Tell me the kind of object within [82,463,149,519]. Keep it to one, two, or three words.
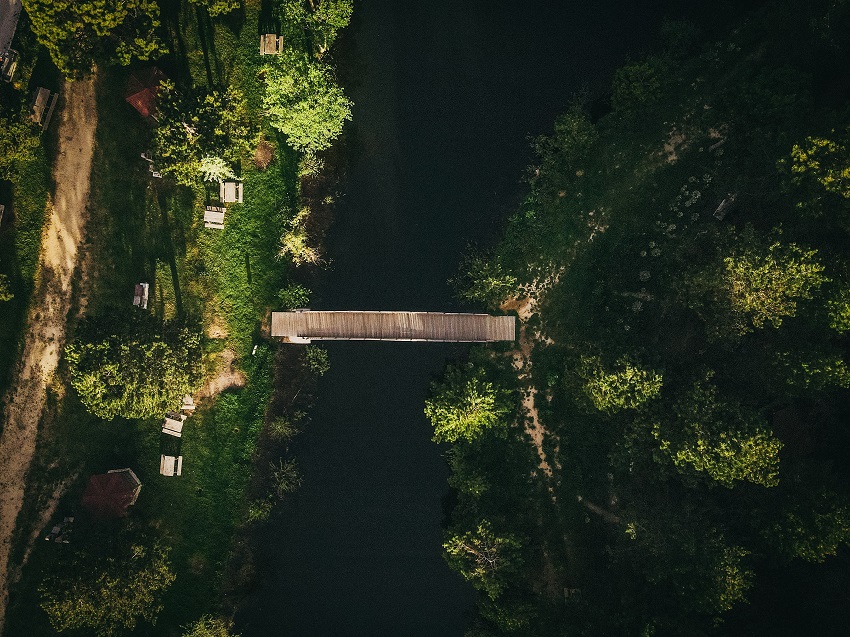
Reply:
gazebo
